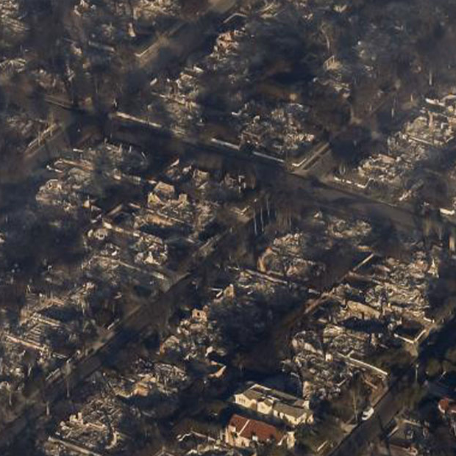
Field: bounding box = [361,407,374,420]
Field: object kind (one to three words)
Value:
vehicle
